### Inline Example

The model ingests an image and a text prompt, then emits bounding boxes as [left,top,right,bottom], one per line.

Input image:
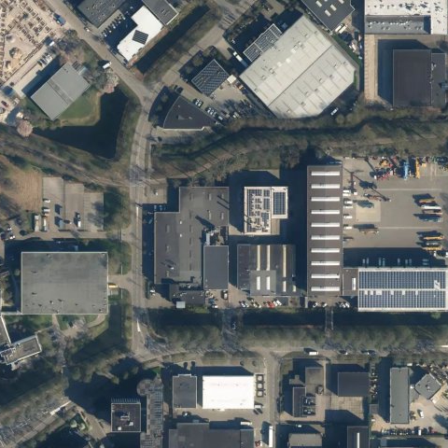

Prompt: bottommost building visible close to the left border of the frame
[0,316,42,366]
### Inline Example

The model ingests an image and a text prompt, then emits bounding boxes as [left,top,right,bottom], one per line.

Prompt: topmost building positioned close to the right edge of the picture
[364,0,447,36]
